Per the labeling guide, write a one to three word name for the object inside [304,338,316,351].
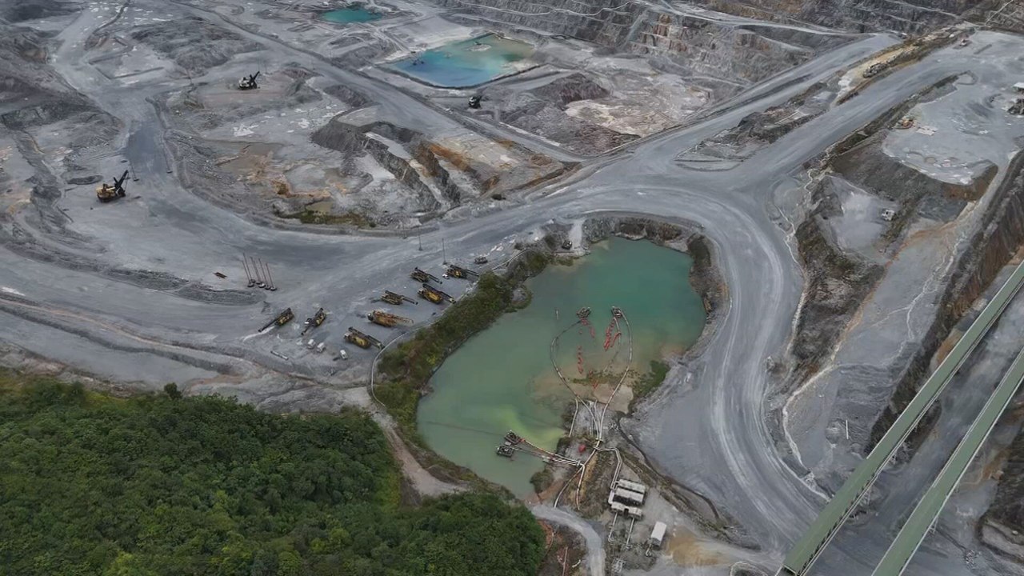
vehicle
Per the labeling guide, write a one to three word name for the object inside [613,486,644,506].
shed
